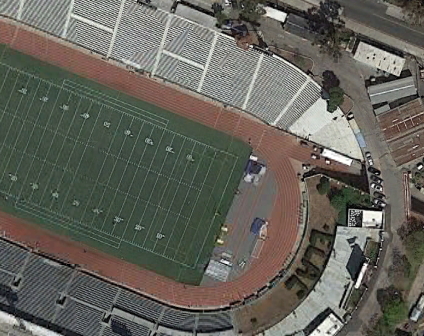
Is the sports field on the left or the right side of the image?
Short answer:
left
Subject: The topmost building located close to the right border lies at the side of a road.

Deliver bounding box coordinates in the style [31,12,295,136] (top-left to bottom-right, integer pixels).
[354,42,405,76]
